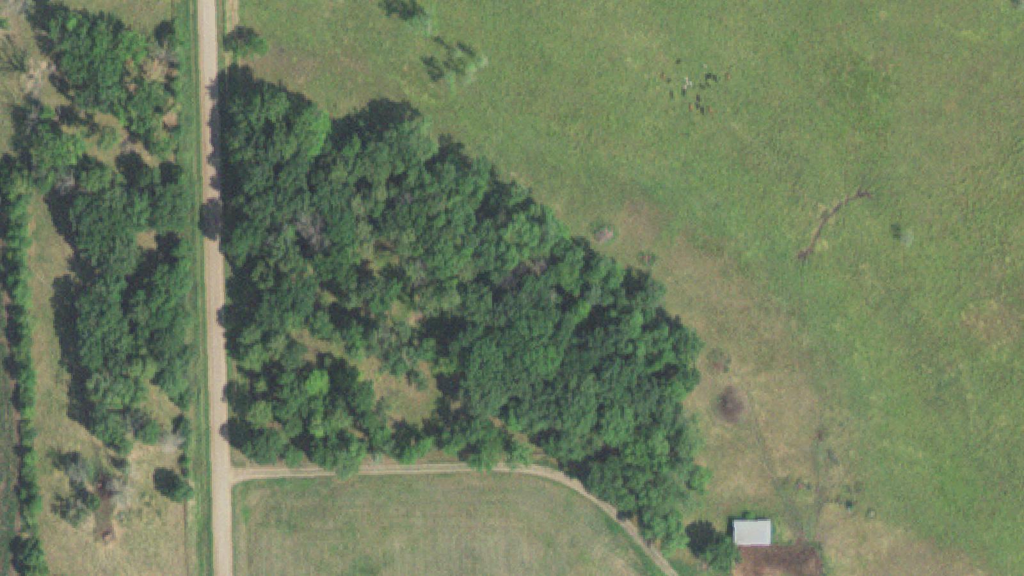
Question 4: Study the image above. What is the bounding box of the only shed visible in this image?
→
[733,519,771,545]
